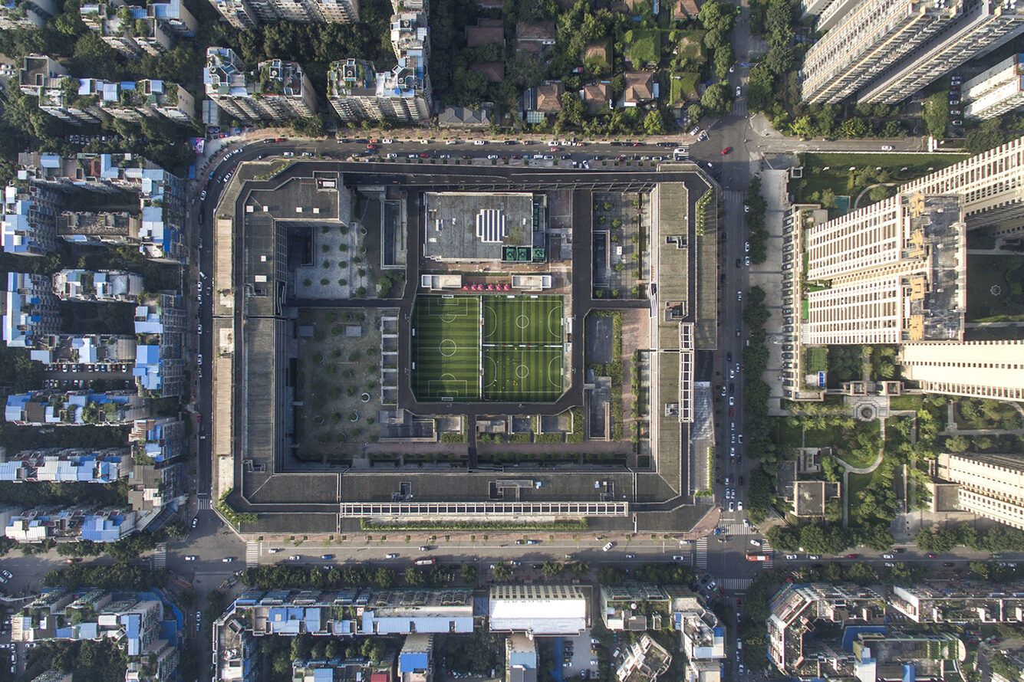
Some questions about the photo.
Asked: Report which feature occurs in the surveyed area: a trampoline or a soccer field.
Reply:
soccer field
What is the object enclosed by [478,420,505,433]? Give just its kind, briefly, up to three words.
building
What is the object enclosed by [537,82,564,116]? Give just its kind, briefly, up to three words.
house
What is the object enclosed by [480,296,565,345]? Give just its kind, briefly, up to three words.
soccer field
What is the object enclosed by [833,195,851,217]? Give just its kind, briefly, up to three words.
swimming pool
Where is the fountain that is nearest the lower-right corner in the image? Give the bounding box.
[857,403,876,422]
